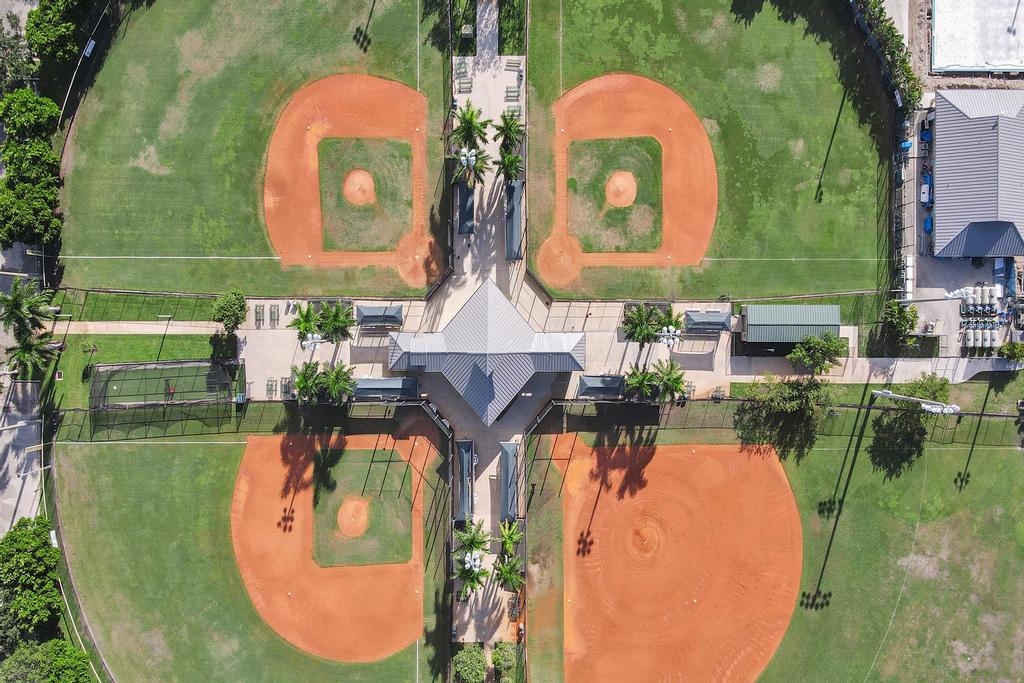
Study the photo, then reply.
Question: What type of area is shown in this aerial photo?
sports ground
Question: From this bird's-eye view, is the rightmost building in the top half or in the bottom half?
top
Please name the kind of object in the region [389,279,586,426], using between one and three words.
building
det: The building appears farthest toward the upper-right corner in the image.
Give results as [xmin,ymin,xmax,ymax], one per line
[931,90,1024,257]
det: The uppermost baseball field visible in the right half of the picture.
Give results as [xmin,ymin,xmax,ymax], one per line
[528,0,888,299]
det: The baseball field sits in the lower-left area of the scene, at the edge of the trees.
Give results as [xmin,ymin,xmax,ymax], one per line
[54,404,449,683]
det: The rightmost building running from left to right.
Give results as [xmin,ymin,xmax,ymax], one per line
[742,304,843,343]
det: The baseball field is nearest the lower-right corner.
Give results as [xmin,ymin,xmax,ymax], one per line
[527,402,1024,683]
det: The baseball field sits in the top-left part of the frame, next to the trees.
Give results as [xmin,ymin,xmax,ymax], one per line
[59,0,448,297]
